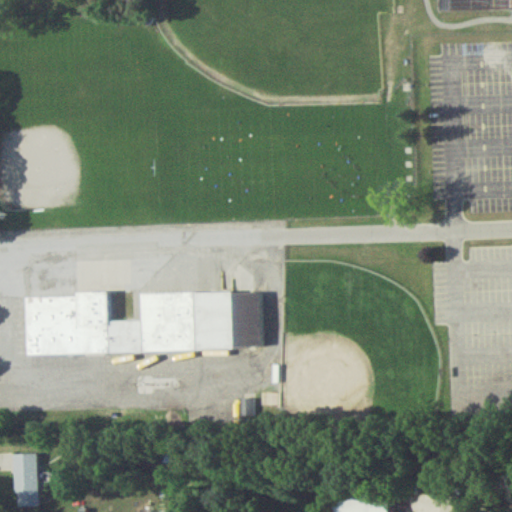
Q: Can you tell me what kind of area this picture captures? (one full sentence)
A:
The area seen from above is a sports ground.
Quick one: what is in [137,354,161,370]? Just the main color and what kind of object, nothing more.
white vehicle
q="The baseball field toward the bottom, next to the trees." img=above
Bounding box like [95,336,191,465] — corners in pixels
[282,259,442,420]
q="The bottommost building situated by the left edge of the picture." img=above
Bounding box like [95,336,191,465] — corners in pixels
[12,453,40,507]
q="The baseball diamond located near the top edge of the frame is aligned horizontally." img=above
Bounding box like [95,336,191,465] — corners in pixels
[151,0,392,106]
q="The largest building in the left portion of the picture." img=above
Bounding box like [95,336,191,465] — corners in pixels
[25,292,266,356]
